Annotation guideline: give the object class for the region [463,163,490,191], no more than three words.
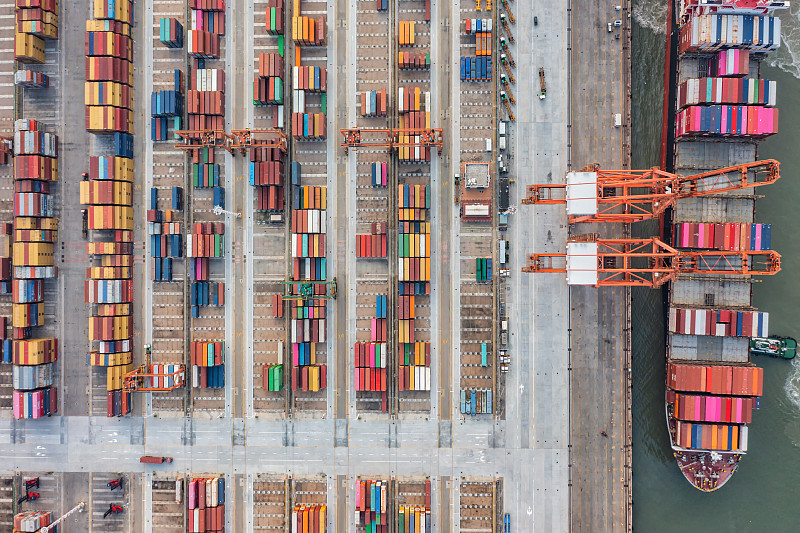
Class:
building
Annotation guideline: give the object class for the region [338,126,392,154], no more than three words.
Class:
container crane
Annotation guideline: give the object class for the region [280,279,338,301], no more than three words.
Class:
container crane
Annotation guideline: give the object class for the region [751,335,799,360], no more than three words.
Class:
boat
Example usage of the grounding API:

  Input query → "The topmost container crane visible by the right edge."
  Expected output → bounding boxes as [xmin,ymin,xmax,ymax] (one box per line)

[525,158,786,229]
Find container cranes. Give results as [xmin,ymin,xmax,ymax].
[280,279,338,301]
[230,127,287,155]
[338,126,392,154]
[525,158,786,229]
[121,364,187,391]
[525,235,786,291]
[173,128,234,156]
[390,126,445,155]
